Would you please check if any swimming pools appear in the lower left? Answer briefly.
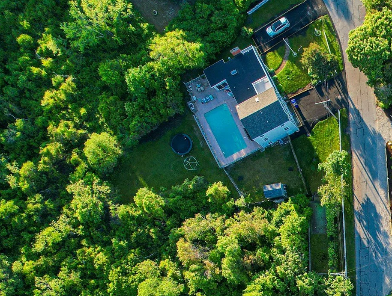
No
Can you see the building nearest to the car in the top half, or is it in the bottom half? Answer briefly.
top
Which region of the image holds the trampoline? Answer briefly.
center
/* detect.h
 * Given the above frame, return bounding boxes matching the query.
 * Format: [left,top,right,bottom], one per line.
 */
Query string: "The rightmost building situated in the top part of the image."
[204,45,299,145]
